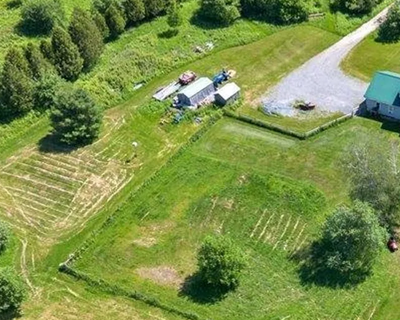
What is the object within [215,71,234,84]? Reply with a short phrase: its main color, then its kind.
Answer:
blue vehicle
